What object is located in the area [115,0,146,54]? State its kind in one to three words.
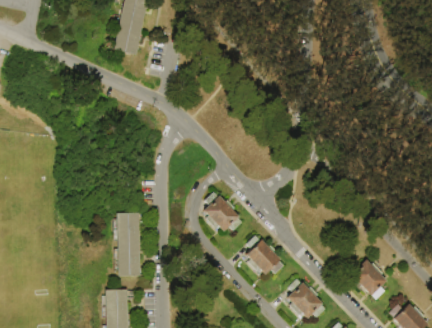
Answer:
building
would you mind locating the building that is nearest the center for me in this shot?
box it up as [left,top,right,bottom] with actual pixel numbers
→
[204,192,240,230]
